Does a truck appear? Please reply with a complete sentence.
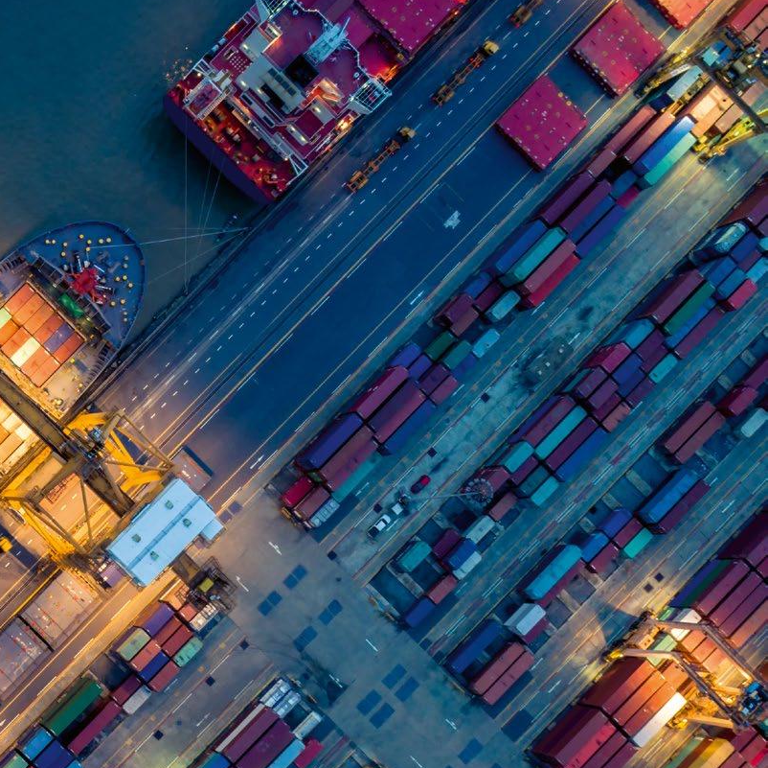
Yes, there is a truck in the image.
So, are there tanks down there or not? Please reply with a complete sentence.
No, the scene contains no tank.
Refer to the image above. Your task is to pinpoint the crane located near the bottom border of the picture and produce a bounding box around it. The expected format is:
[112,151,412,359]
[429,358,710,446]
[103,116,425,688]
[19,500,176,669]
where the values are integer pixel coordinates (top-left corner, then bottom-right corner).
[602,605,768,745]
